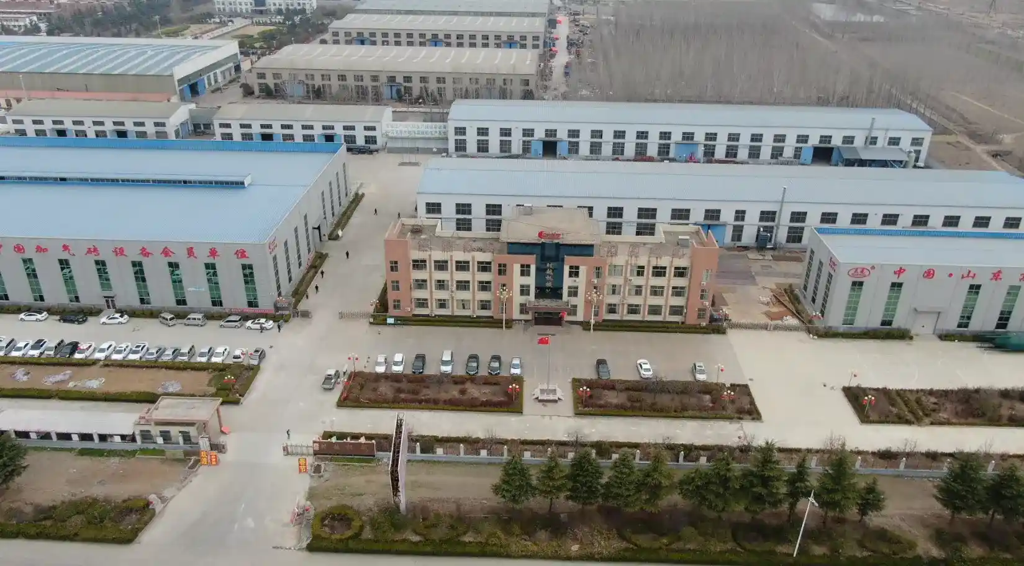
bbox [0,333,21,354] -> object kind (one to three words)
vehicle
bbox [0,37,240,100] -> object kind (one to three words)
building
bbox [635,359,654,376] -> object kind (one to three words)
car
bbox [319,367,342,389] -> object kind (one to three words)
truck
